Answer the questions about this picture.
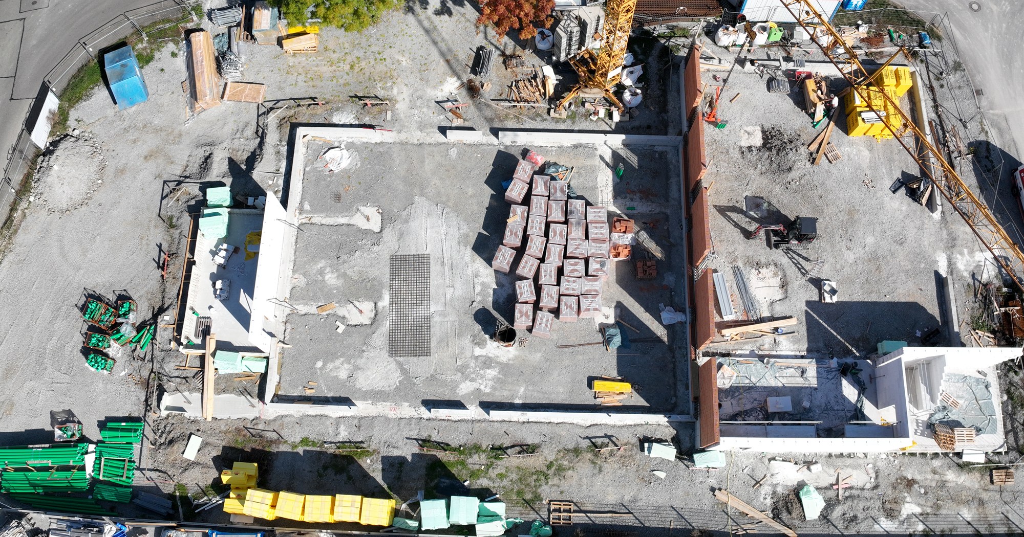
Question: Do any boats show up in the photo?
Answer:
No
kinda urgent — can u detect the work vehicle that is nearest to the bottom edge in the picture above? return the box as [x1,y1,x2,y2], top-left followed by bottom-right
[745,214,816,248]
